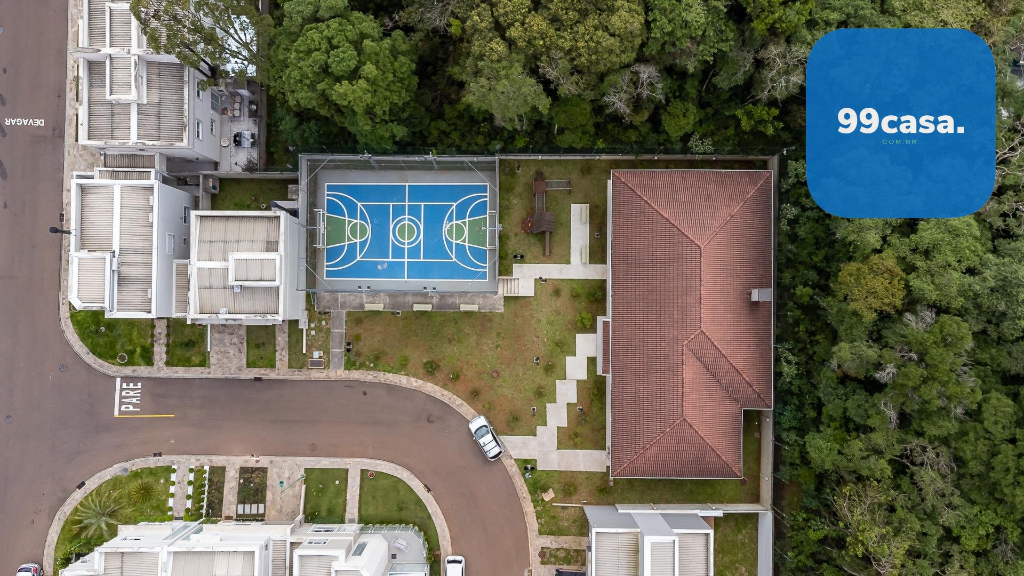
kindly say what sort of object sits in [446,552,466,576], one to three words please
car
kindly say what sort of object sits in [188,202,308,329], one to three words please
house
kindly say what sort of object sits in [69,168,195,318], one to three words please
house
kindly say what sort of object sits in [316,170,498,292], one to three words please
sports court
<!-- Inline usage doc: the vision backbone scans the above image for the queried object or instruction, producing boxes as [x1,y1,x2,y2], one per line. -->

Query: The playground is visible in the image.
[521,171,571,255]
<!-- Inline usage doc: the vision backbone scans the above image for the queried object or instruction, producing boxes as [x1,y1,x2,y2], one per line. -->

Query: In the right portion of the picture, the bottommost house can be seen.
[580,504,714,576]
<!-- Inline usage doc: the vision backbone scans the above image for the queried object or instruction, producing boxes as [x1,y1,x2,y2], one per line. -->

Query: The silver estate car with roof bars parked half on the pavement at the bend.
[469,413,504,463]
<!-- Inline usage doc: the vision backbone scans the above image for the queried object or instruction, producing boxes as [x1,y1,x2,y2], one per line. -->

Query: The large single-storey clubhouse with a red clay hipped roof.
[595,169,776,479]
